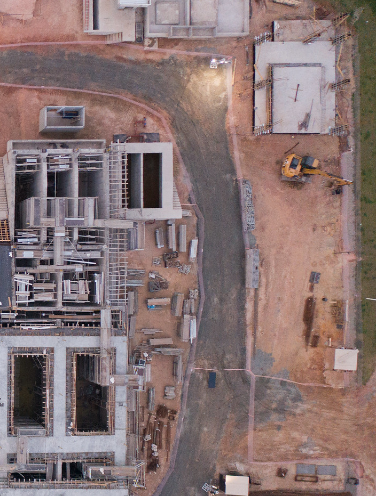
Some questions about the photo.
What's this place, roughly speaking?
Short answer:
industrial area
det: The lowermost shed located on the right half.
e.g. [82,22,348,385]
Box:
[215,471,249,496]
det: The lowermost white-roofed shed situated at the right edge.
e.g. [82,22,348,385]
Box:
[322,348,358,370]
